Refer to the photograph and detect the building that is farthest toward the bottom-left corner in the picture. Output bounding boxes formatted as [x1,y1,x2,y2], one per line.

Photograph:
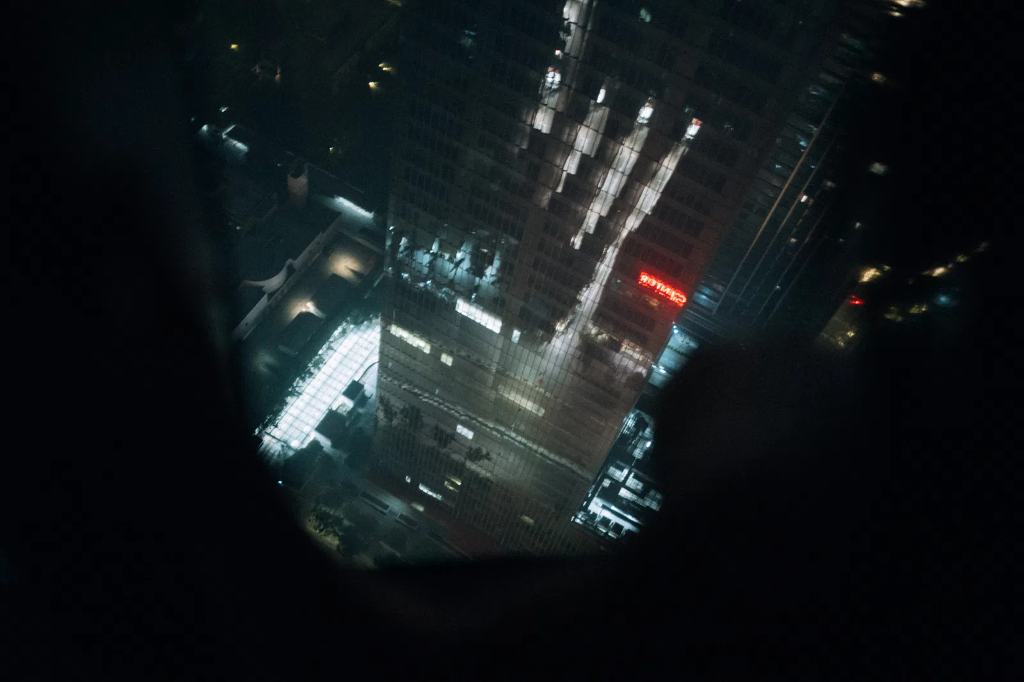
[316,409,348,447]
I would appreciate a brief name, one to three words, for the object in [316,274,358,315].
building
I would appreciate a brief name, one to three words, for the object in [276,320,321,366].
building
